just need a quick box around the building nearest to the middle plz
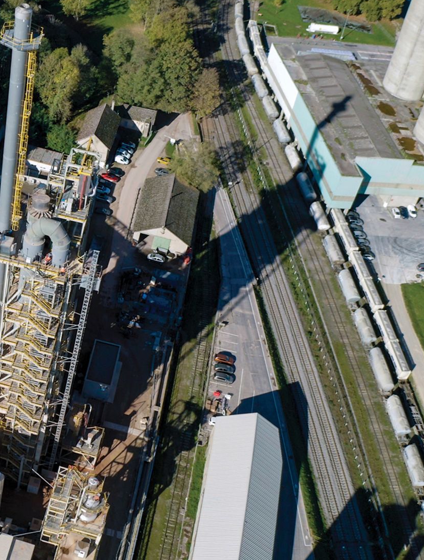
[131,169,201,253]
